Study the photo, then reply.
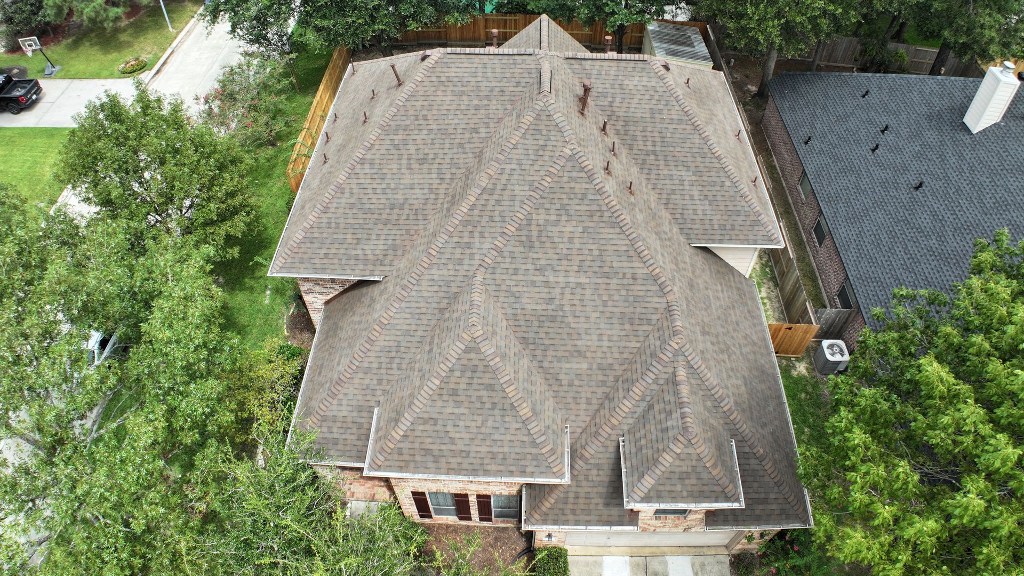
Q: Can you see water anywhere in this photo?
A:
No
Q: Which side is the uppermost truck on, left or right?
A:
left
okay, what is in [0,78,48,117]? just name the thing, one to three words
truck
